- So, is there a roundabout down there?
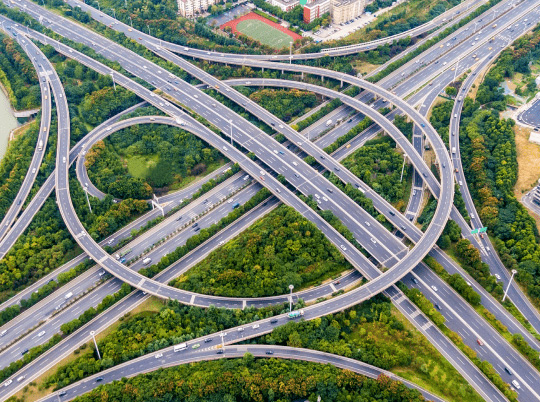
No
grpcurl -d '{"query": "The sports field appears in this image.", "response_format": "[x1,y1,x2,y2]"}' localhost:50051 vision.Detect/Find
[230,11,304,50]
